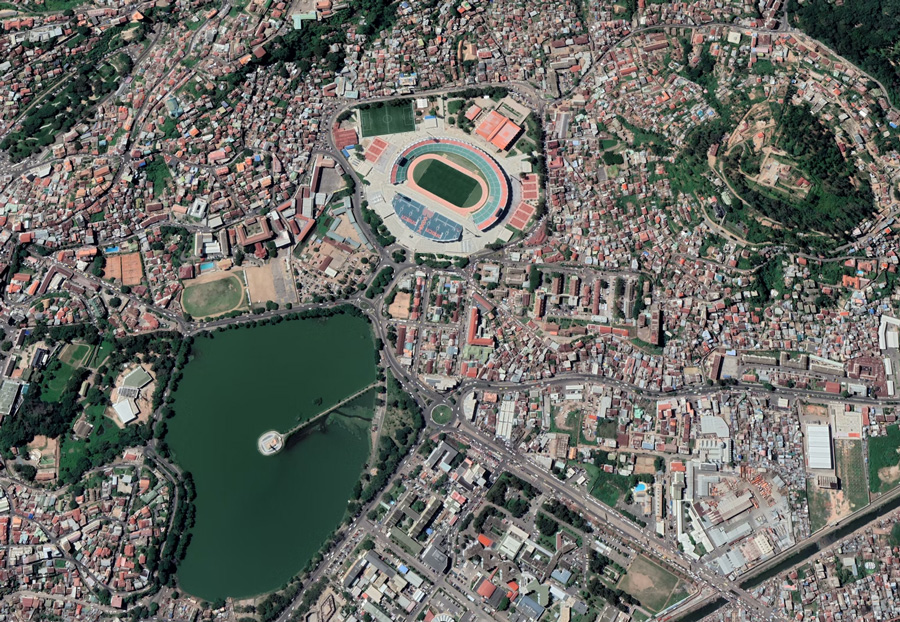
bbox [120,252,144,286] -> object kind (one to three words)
tennis court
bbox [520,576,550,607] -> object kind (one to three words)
building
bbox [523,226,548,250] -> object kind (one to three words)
building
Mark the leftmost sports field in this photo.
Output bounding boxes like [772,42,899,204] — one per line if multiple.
[180,276,244,319]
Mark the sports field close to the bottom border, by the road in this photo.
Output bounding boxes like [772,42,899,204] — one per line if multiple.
[618,556,670,611]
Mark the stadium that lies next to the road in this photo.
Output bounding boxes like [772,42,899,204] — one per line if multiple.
[388,137,508,243]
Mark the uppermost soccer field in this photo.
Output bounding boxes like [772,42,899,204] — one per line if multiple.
[359,103,417,139]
